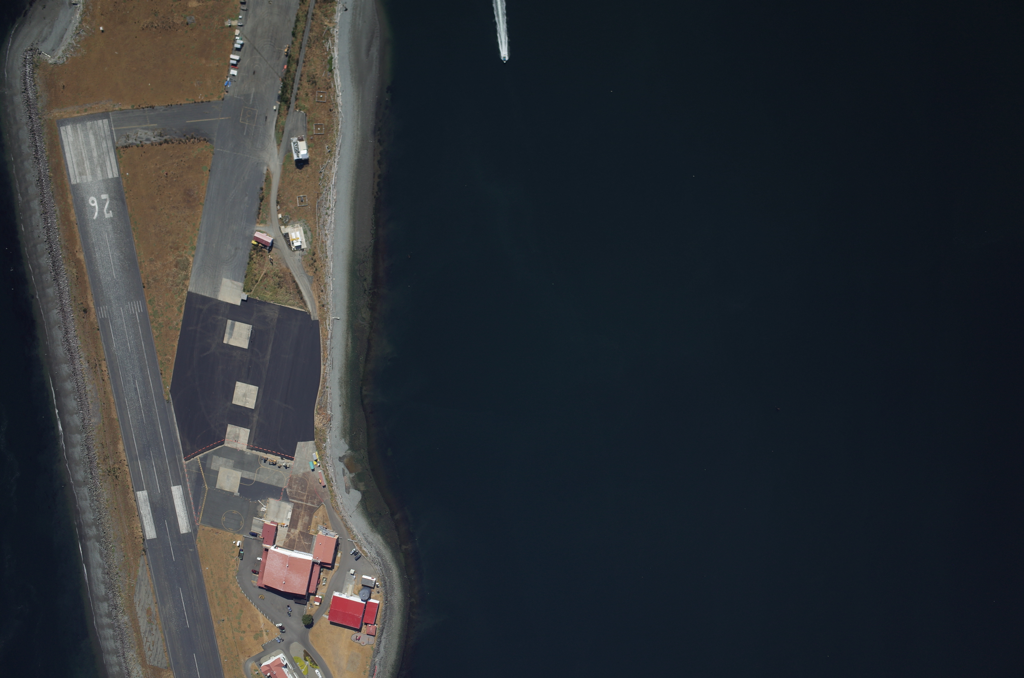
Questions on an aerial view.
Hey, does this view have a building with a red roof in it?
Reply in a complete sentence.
Yes, a building with a red roof is visible in the scene.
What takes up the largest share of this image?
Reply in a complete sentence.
For the most part, this view shows water.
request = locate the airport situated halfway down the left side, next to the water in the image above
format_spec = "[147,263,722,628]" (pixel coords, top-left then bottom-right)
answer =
[57,0,330,678]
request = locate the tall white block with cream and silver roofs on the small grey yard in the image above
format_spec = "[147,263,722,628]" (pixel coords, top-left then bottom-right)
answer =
[290,135,309,161]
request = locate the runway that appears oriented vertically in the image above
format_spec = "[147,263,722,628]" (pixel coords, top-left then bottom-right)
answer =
[57,112,224,678]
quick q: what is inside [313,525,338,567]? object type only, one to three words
building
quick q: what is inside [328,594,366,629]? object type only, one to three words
building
